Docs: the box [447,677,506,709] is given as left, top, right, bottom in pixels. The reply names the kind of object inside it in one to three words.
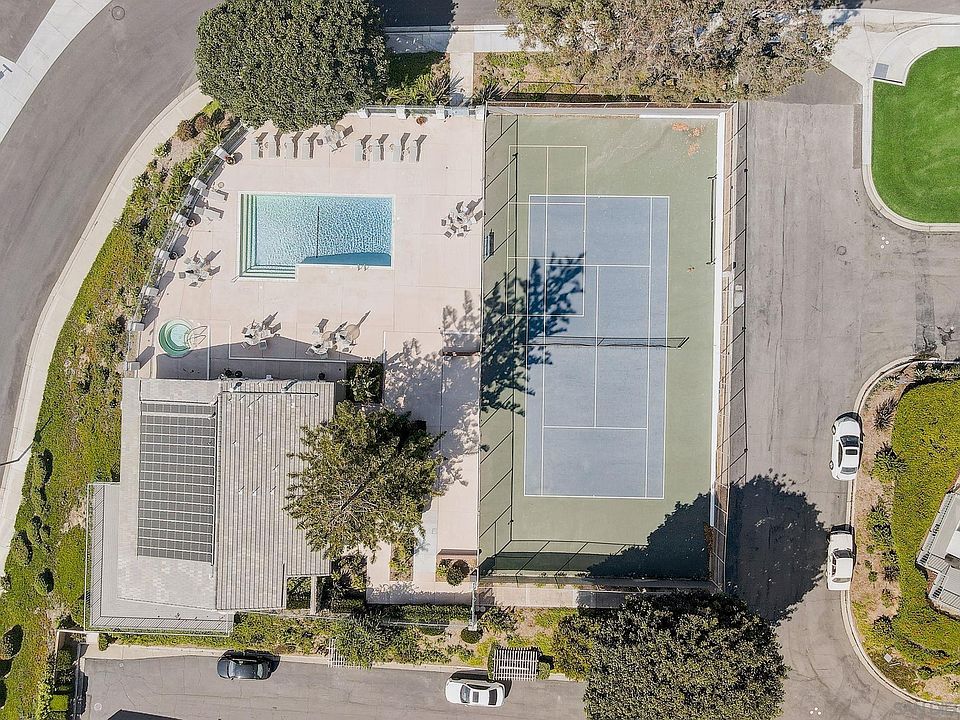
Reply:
car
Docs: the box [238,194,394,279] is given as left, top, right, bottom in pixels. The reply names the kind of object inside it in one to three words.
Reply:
swimming pool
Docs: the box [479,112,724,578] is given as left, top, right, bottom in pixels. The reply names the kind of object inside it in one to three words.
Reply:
tennis court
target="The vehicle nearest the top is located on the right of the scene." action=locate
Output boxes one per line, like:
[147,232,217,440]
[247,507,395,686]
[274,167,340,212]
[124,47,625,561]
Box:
[830,415,863,477]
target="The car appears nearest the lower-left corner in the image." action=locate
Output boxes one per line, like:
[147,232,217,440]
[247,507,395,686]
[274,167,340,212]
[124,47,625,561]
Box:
[219,652,274,683]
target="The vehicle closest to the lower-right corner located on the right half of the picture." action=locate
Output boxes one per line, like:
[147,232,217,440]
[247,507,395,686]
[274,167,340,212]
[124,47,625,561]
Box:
[825,531,857,591]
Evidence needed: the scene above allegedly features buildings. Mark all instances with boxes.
[915,488,960,615]
[83,379,337,636]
